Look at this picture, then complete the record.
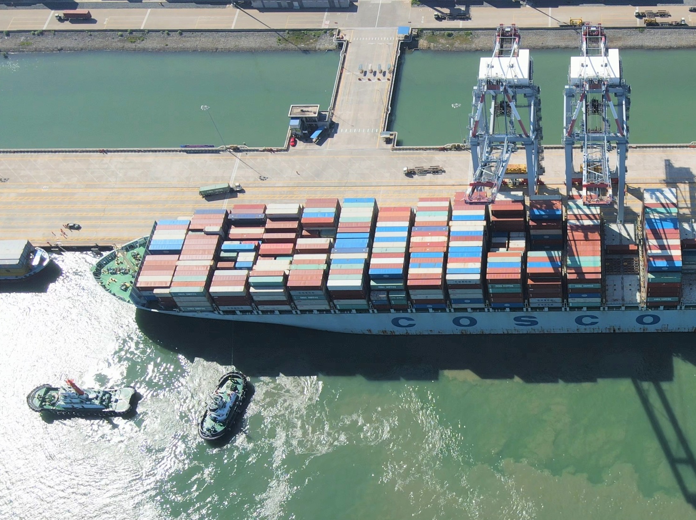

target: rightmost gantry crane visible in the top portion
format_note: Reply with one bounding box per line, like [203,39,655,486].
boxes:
[558,17,637,221]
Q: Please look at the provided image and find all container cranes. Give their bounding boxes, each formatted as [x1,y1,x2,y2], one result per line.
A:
[558,17,637,221]
[464,18,555,202]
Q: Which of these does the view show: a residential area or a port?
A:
port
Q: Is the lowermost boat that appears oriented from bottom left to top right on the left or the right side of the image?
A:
left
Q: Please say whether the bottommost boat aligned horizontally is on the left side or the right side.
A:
left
